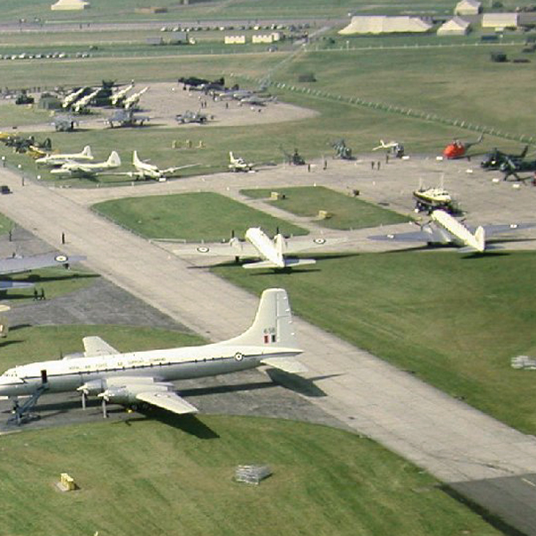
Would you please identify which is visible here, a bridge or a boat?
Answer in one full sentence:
There is a boat in the scene.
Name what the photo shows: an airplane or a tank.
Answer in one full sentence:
This aerial view contains an airplane.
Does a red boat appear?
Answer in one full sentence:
No, the scene contains no red boat.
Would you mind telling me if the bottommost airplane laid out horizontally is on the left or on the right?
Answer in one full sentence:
It is on the left.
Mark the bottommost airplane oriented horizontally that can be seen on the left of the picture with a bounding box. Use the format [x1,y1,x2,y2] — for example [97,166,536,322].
[0,291,307,419]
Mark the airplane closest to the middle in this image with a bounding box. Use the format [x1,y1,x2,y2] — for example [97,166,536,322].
[174,227,350,277]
